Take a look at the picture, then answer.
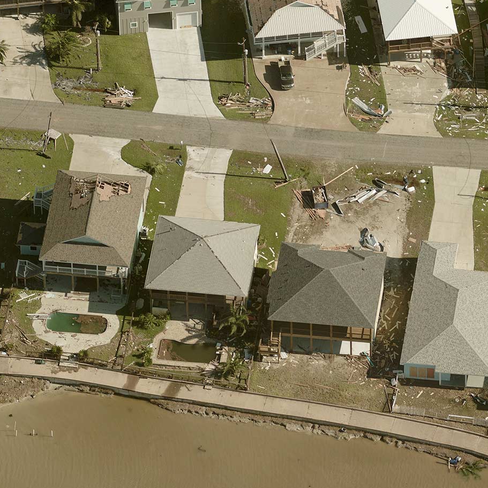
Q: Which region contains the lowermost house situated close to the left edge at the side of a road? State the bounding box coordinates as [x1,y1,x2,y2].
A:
[16,170,148,299]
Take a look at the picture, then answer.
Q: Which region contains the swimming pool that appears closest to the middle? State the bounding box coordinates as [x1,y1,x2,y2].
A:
[150,319,236,367]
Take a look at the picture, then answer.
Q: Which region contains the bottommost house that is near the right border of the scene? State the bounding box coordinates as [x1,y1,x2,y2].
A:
[396,241,488,393]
